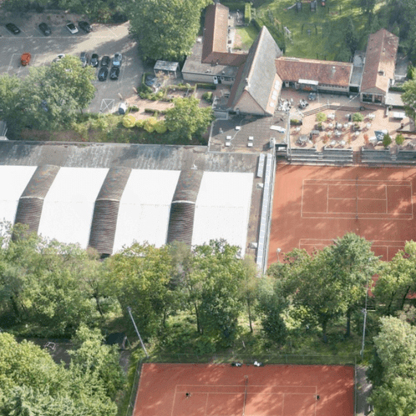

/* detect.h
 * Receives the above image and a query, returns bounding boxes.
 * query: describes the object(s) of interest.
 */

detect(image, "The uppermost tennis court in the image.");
[270,164,416,230]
